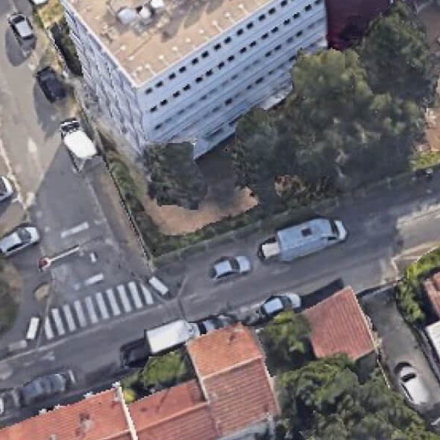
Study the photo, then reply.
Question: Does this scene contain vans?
Yes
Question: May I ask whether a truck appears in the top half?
Yes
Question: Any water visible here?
No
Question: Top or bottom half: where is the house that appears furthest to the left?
bottom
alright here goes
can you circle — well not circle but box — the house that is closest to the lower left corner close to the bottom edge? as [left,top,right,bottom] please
[5,386,134,440]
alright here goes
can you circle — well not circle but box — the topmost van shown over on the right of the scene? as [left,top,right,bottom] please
[266,218,341,264]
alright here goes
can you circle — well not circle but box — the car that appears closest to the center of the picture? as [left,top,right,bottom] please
[208,254,253,284]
